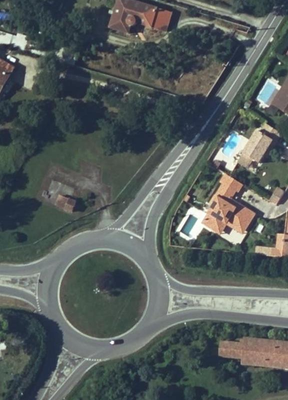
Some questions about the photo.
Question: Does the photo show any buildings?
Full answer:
Yes, a building is visible in the scene.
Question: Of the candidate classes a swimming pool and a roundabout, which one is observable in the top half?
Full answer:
The feature located in the top half is a swimming pool.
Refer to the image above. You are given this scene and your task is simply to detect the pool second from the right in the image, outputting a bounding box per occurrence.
[213,132,248,171]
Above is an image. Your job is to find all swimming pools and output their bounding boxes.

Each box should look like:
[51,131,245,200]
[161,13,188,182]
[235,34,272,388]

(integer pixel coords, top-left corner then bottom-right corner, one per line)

[176,207,206,240]
[213,132,248,171]
[256,78,279,108]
